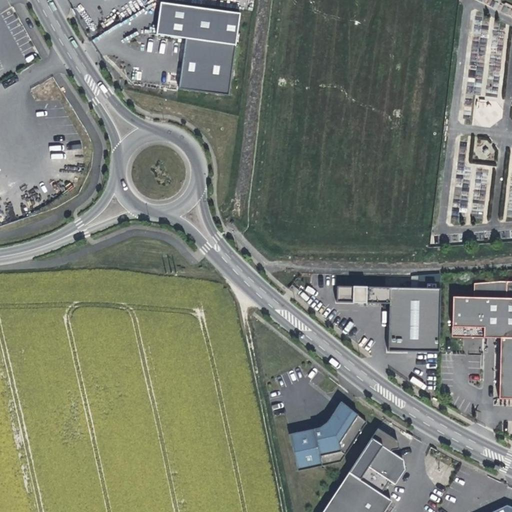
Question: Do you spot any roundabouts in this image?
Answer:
Yes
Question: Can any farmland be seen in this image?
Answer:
Yes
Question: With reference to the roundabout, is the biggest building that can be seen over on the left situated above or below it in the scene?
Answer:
above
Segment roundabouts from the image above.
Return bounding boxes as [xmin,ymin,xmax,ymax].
[86,96,215,246]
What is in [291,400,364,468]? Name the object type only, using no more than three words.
building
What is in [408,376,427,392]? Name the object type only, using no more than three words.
vehicle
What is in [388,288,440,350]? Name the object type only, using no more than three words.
building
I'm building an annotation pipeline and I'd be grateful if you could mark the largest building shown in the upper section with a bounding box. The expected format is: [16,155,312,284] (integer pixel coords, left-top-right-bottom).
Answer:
[158,2,240,95]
